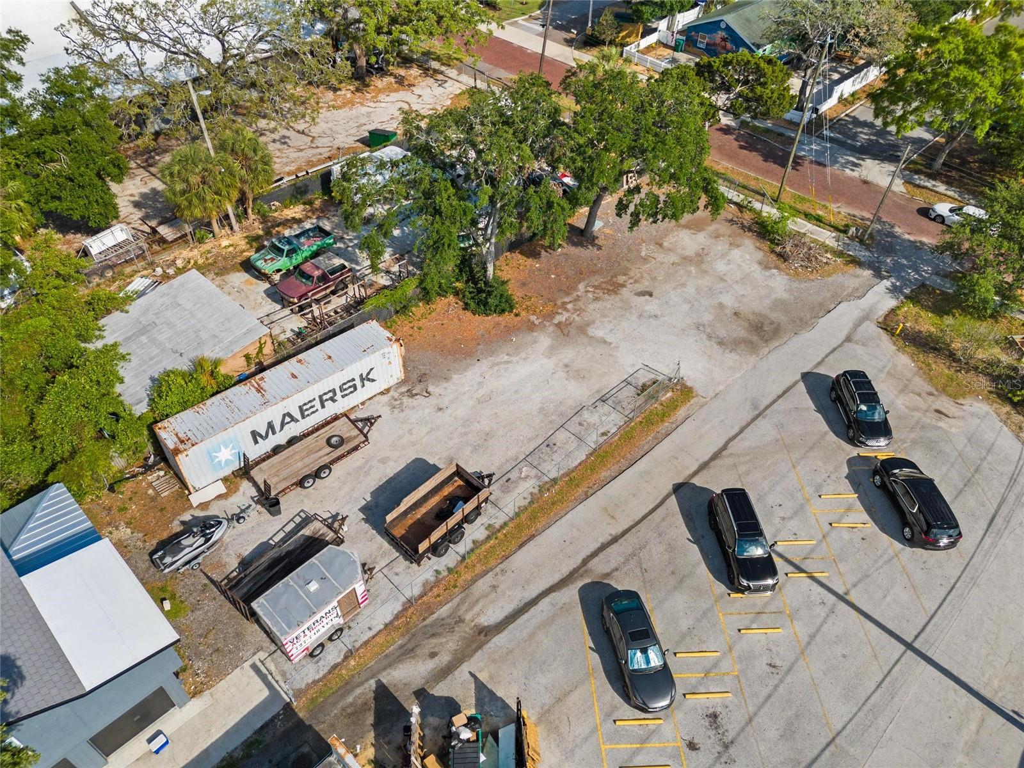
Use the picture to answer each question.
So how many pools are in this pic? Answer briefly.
none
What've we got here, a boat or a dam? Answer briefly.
boat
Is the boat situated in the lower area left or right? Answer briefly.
left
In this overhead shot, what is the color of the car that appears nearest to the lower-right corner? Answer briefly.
black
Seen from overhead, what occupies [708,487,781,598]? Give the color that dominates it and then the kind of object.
black car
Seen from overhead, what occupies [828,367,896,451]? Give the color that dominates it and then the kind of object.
black car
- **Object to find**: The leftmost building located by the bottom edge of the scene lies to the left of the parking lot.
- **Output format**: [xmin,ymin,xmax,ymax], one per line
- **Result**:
[0,483,200,768]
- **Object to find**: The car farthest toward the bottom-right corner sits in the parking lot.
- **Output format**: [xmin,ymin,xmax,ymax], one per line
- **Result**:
[871,456,964,553]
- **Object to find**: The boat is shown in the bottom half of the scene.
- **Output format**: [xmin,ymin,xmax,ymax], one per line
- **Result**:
[156,519,229,578]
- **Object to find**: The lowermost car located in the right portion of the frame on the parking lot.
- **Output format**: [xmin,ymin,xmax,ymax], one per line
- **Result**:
[600,587,679,716]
